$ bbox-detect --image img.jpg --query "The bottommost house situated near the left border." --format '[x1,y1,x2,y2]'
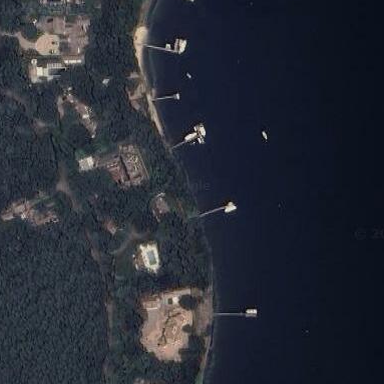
[0,194,59,227]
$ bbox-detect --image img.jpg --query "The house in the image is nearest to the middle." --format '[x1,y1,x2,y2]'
[150,191,170,216]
